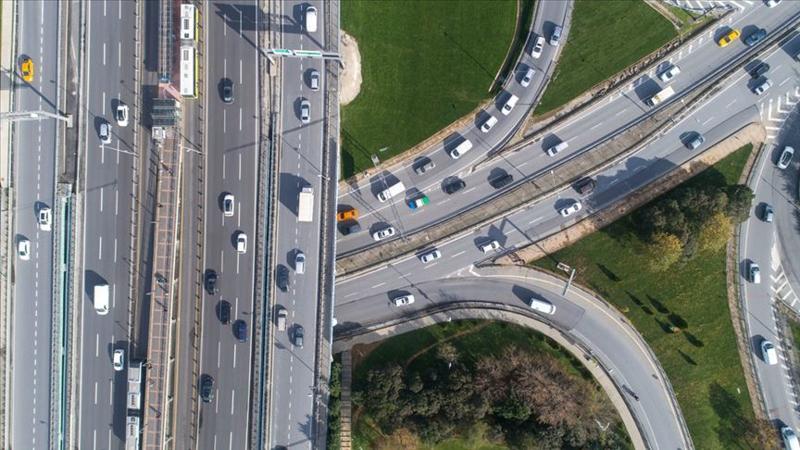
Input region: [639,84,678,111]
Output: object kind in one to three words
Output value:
truck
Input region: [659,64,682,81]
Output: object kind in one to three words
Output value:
car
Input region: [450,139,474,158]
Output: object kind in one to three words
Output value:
vehicle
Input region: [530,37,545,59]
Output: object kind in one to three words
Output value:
car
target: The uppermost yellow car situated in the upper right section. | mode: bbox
[717,30,740,46]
